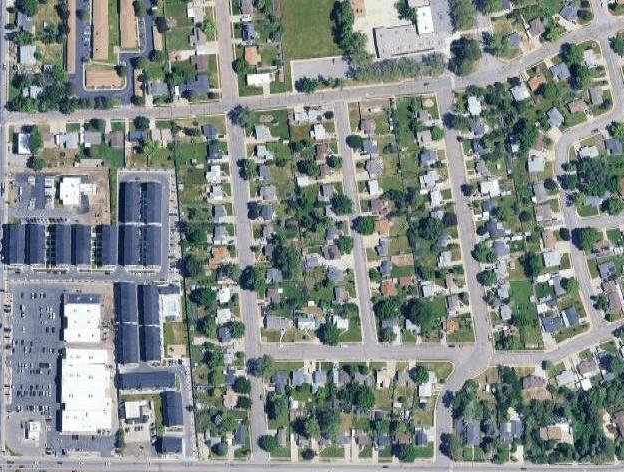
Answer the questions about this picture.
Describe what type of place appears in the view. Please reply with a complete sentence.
What you see here is a residential area.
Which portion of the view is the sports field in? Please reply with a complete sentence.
The sports field is in the top part of the image.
